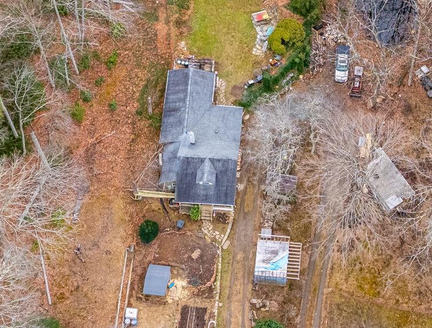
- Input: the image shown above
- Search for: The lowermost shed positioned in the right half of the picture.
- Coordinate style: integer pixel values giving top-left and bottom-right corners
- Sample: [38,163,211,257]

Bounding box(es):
[254,233,302,288]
